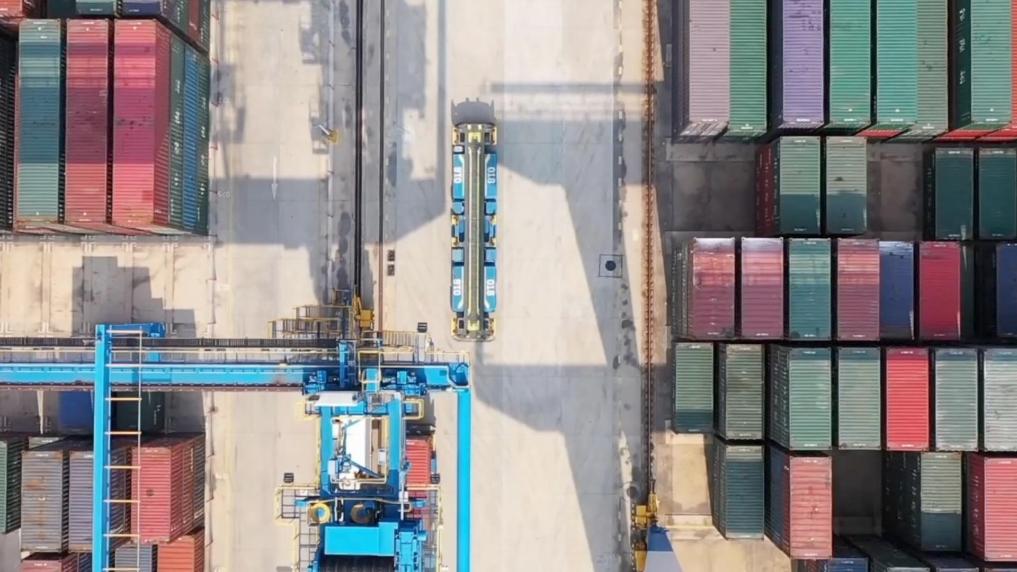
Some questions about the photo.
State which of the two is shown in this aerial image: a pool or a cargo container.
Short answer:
cargo container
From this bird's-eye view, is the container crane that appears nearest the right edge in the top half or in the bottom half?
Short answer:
bottom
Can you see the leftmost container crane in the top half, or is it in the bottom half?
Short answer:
bottom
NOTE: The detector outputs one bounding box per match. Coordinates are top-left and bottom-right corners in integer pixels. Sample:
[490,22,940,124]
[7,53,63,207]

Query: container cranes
[0,280,471,572]
[630,472,683,572]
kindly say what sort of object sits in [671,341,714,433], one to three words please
shipping container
